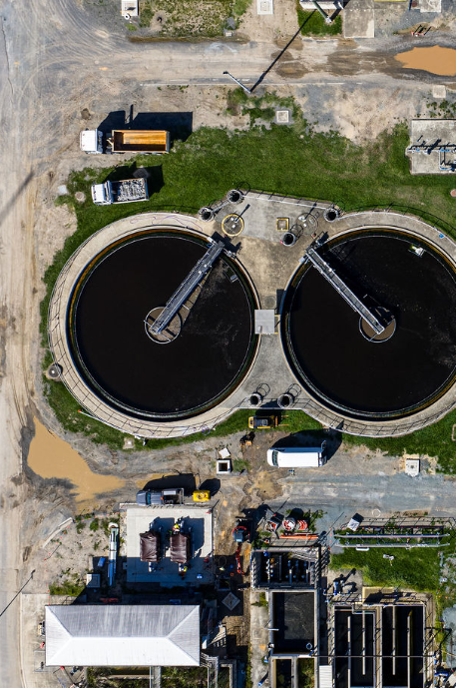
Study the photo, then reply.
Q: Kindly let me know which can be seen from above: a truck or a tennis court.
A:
truck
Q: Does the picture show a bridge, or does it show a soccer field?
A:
bridge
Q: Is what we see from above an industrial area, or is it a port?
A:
industrial area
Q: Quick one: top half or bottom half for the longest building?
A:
bottom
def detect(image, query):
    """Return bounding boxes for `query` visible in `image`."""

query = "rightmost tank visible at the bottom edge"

[330,606,428,688]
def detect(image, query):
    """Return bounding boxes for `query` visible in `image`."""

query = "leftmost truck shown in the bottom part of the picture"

[134,486,189,508]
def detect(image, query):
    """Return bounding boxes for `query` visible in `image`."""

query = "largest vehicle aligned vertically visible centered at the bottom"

[232,516,250,574]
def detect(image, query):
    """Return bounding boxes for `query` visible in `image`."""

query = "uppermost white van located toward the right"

[269,440,330,469]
